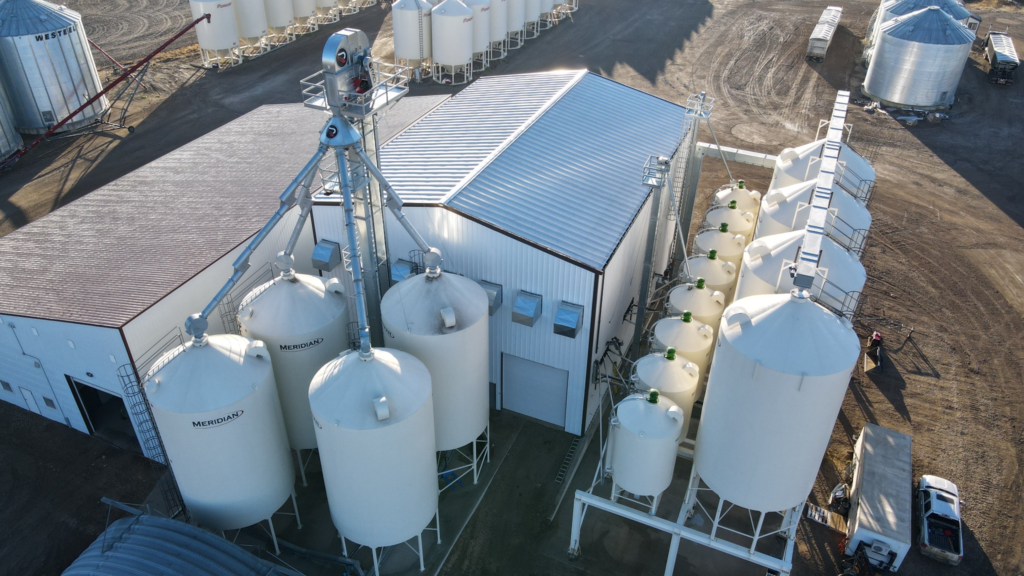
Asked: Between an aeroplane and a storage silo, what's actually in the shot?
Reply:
storage silo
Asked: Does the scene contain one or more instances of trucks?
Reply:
Yes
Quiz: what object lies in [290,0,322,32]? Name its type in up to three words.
silo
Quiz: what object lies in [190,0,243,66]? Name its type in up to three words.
silo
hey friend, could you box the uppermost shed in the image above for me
[962,5,984,35]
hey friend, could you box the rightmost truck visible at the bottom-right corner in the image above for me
[912,474,965,569]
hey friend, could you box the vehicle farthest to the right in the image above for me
[982,24,1020,84]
